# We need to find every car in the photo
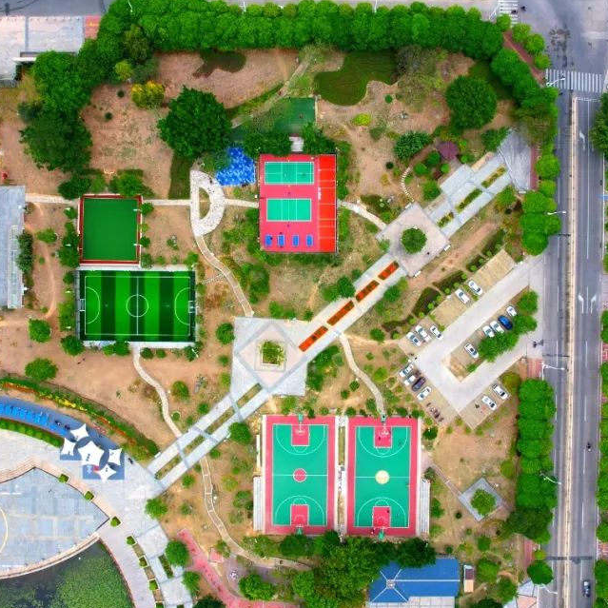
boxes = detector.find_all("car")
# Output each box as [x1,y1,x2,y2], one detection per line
[468,279,484,296]
[406,330,422,347]
[492,382,509,399]
[464,342,481,359]
[398,362,414,379]
[453,288,471,304]
[498,314,514,327]
[402,373,417,387]
[428,324,444,341]
[482,394,497,411]
[414,325,430,341]
[489,319,502,332]
[416,385,432,401]
[481,323,494,336]
[505,304,520,319]
[410,375,426,392]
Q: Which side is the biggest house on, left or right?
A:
right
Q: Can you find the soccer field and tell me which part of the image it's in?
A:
left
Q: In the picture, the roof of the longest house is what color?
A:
blue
